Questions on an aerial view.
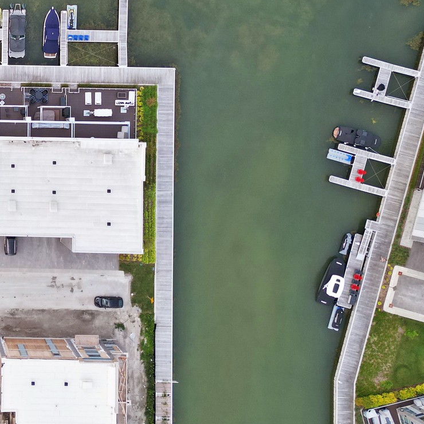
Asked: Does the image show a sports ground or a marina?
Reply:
marina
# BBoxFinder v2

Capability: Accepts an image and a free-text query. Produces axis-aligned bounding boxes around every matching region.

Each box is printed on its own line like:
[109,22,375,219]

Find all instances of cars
[3,237,18,257]
[93,295,123,310]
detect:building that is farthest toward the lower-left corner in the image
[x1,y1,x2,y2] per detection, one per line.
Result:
[0,335,132,424]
